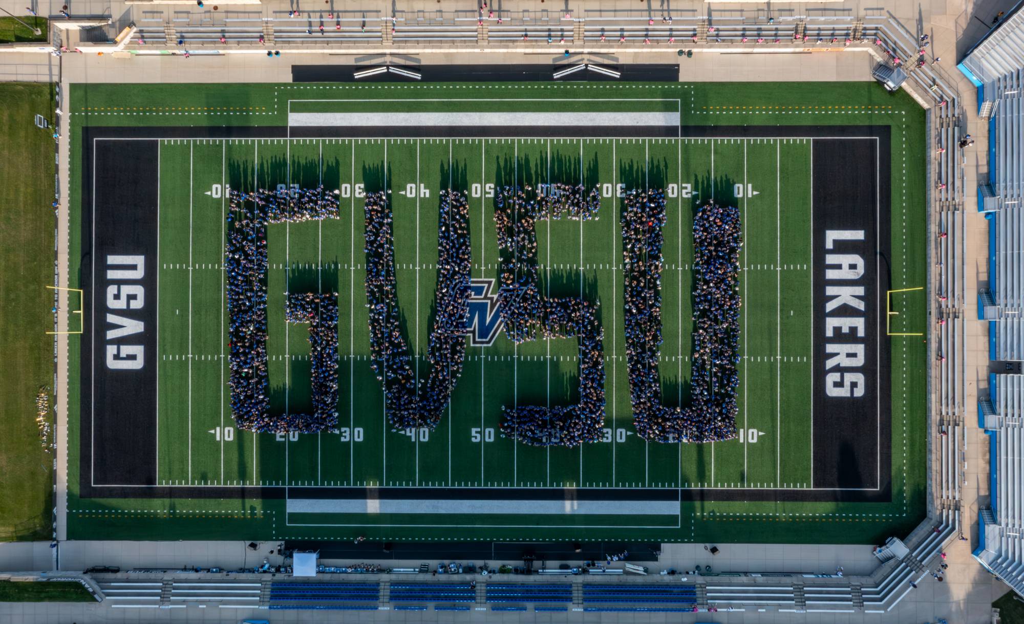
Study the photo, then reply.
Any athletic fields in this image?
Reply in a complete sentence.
Yes, there is an athletic field in the image.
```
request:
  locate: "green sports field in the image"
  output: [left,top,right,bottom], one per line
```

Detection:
[66,81,927,545]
